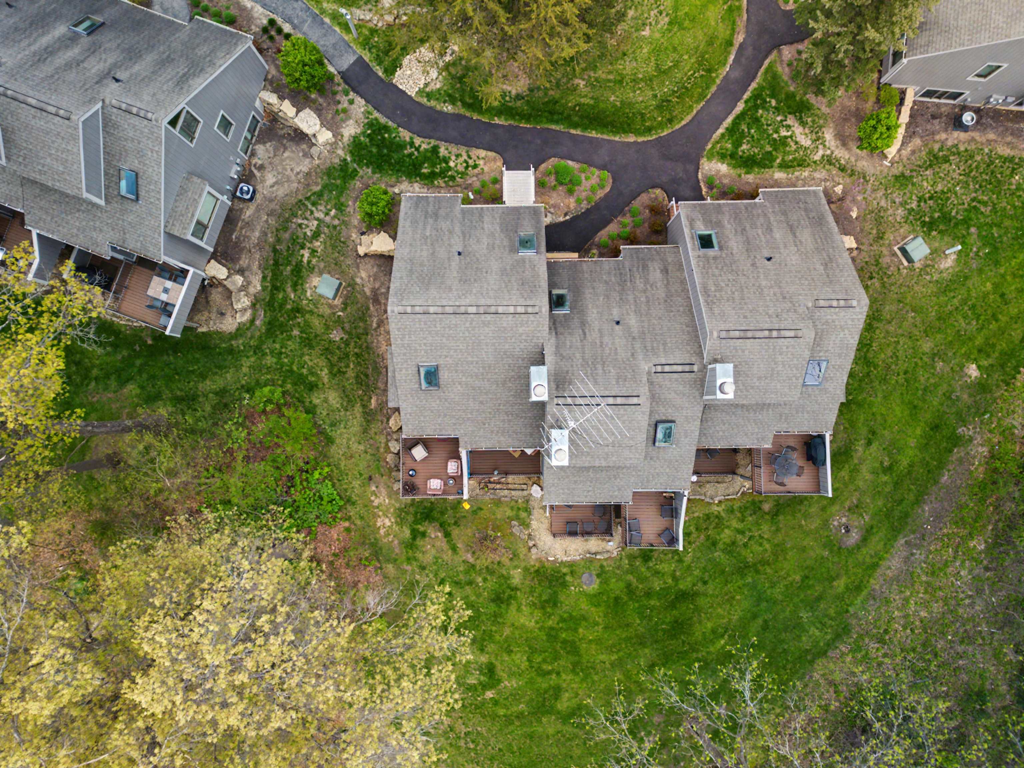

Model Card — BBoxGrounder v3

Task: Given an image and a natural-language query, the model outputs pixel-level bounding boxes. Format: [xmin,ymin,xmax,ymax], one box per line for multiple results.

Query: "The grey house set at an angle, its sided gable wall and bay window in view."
[0,0,268,274]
